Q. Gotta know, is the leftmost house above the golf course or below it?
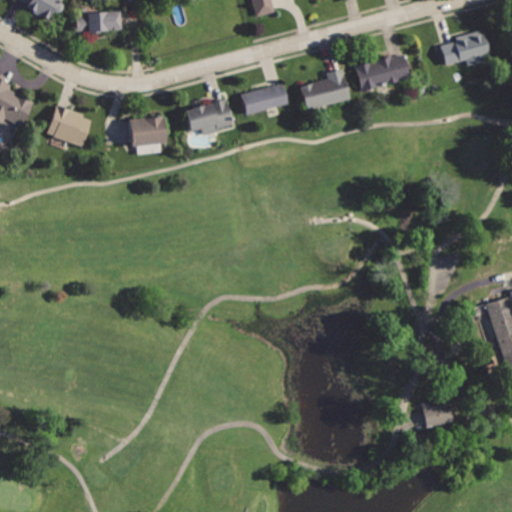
above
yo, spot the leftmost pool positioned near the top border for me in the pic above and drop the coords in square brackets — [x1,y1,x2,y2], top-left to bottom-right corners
[172,4,187,28]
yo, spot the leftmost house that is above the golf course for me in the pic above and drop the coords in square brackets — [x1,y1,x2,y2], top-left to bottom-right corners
[0,78,36,128]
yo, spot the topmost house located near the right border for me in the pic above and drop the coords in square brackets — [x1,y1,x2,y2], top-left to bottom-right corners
[440,30,492,66]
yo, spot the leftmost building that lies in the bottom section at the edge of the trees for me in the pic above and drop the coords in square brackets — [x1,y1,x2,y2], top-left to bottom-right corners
[422,401,454,428]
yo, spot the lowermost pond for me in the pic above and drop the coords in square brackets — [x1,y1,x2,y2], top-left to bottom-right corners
[278,470,442,512]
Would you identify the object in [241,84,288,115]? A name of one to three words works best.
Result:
house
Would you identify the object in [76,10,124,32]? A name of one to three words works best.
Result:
house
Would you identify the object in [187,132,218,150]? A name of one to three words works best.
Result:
swimming pool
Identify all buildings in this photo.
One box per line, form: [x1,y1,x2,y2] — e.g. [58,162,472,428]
[46,106,92,146]
[241,84,288,115]
[32,0,65,19]
[188,96,234,134]
[0,78,36,128]
[422,401,454,428]
[302,68,350,107]
[131,114,168,156]
[356,55,410,92]
[254,0,274,16]
[486,299,512,364]
[76,10,124,32]
[440,30,492,66]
